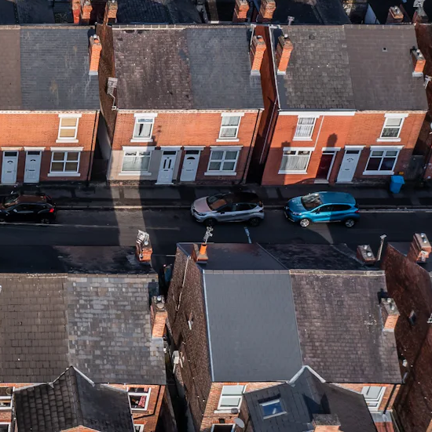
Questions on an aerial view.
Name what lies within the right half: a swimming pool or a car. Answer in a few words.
car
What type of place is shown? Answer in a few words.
residential area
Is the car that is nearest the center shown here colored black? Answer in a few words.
Yes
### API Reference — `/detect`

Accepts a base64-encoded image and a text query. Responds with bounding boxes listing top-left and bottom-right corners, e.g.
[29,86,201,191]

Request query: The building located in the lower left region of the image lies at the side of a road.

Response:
[0,212,168,432]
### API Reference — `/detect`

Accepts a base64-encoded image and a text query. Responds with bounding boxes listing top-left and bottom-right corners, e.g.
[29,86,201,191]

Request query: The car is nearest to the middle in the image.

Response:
[188,190,267,227]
